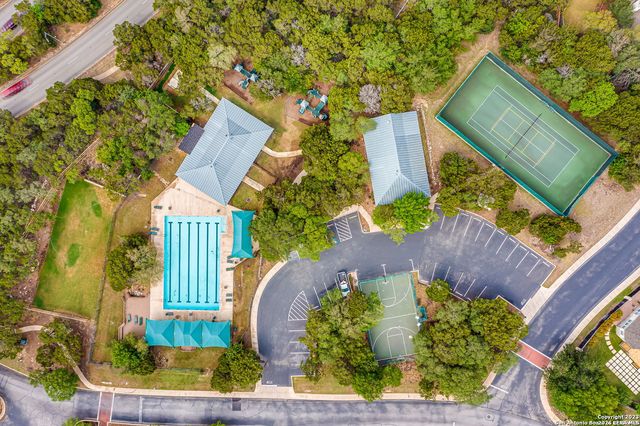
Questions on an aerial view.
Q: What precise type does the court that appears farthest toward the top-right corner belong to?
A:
tennis court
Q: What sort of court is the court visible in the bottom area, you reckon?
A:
basketball court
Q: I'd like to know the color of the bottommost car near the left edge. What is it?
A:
red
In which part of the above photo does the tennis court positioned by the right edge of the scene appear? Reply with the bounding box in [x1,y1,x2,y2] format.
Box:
[436,56,611,212]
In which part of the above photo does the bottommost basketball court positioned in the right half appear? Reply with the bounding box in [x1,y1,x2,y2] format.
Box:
[359,271,426,364]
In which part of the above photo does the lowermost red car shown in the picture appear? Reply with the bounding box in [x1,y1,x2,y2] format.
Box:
[1,77,26,98]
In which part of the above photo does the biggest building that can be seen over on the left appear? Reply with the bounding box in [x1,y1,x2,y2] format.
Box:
[175,97,274,206]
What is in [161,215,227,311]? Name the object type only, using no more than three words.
swimming pool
